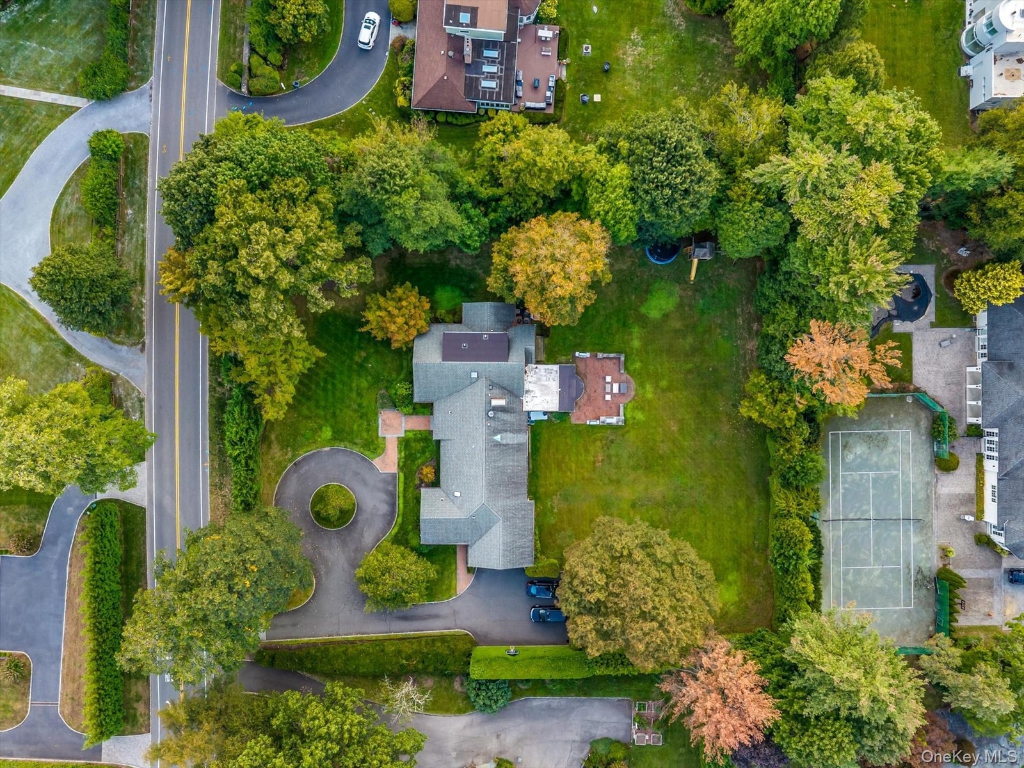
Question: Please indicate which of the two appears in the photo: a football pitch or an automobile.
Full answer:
I can see an automobile in this picture.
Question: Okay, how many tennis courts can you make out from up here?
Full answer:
I count 1 tennis court.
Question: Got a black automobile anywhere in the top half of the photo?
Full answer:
No, there is no black automobile in the top half of the photo.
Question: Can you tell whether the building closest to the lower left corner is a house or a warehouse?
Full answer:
Specifically, the building closest to the lower left corner is a house.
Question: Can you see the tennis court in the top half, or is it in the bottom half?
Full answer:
The bottom half of the photo is where the tennis court is.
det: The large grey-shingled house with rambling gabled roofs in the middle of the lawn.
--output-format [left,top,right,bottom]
[411,303,584,569]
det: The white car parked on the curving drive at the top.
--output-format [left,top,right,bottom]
[359,12,380,51]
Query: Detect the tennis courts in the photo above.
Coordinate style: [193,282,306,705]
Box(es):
[820,395,935,647]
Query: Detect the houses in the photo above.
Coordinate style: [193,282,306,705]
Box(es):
[966,295,1024,559]
[411,0,540,117]
[961,0,1024,110]
[411,303,584,569]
